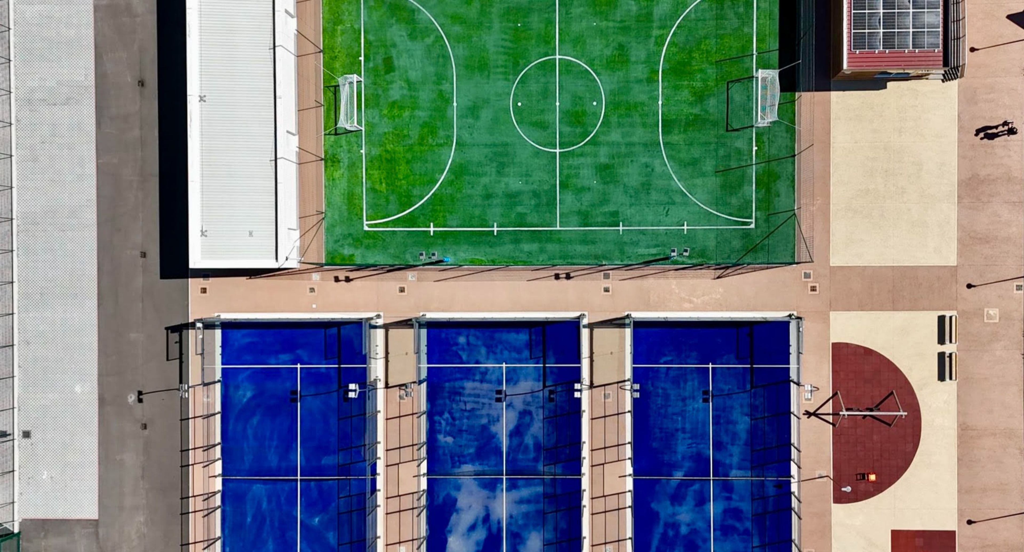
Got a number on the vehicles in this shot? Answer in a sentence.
There are no vehicles in this view.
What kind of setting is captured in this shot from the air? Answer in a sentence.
What you see here is a sports ground.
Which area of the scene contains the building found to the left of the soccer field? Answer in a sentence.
You can find the building found to the left of the soccer field in the top left area of the picture.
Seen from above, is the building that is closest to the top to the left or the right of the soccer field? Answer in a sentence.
It is on the right side of the soccer field that the building that is closest to the top is positioned.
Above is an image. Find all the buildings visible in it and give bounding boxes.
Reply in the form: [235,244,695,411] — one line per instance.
[833,0,962,84]
[188,0,301,268]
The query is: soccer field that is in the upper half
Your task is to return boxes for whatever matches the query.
[321,0,797,266]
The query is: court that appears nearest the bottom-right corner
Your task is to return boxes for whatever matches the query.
[626,314,805,552]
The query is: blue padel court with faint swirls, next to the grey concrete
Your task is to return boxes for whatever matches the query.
[196,314,383,552]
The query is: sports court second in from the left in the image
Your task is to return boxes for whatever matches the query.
[415,314,588,552]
